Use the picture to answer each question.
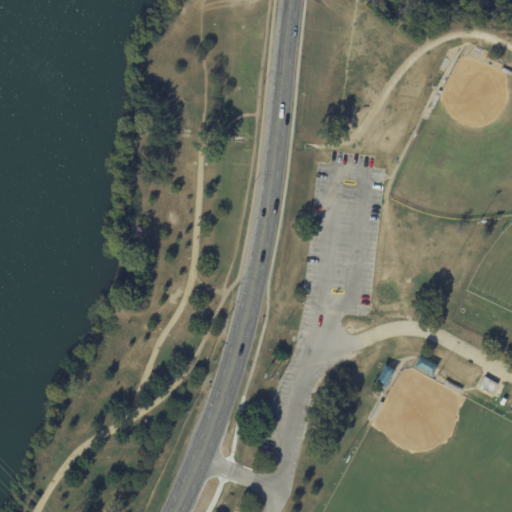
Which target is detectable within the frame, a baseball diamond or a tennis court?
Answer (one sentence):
This aerial view contains a baseball diamond.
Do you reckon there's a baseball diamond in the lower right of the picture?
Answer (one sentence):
Yes, there is a baseball diamond in the lower right of the picture.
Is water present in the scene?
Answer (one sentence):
Yes, there is water in the image.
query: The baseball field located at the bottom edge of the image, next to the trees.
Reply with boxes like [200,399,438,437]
[325,366,512,512]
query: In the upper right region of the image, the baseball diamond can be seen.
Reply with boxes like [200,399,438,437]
[392,56,512,218]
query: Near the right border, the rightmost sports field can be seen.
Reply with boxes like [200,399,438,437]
[468,223,512,312]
